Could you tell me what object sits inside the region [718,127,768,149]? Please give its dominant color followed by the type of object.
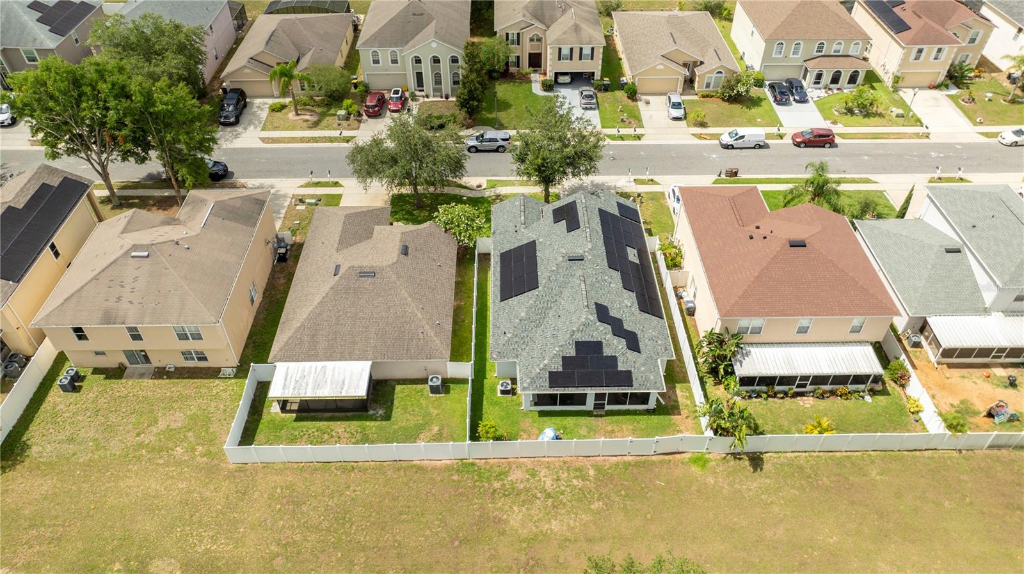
white vehicle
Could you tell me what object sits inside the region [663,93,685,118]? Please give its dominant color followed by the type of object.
white car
